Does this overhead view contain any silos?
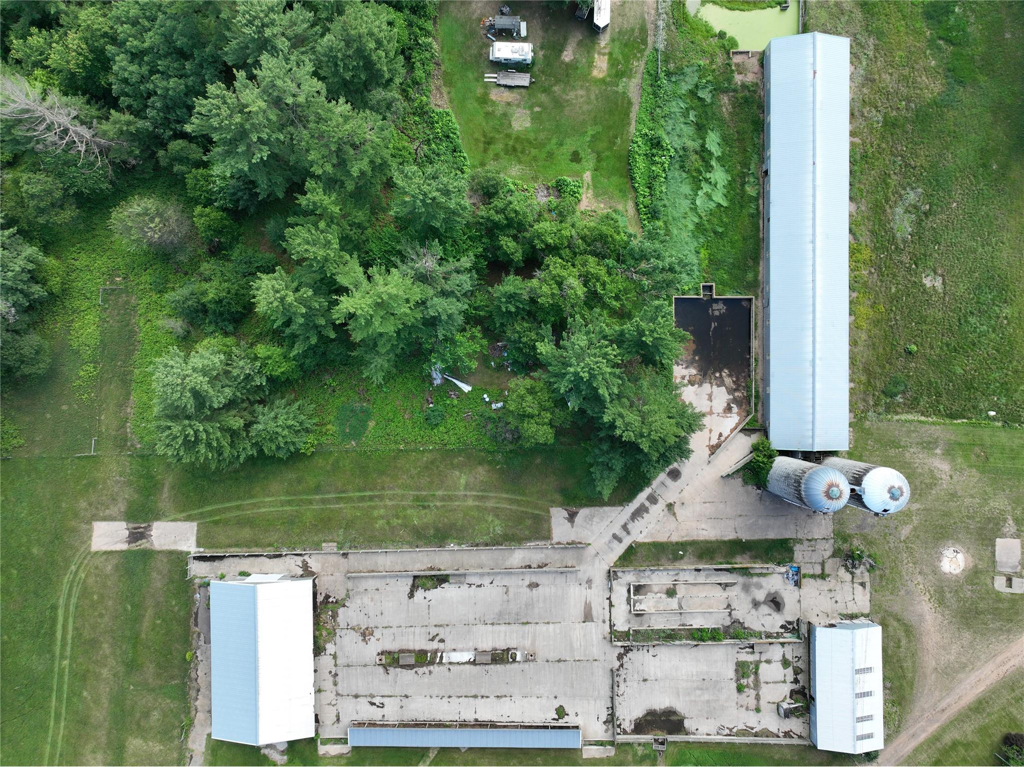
Yes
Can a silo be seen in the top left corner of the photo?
No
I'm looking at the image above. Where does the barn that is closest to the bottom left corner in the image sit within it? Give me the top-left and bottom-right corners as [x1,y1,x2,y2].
[210,571,320,747]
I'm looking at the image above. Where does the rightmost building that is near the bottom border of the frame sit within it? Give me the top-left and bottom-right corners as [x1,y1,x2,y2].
[809,620,883,755]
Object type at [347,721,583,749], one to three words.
shed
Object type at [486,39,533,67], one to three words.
trailer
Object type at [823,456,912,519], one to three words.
silo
